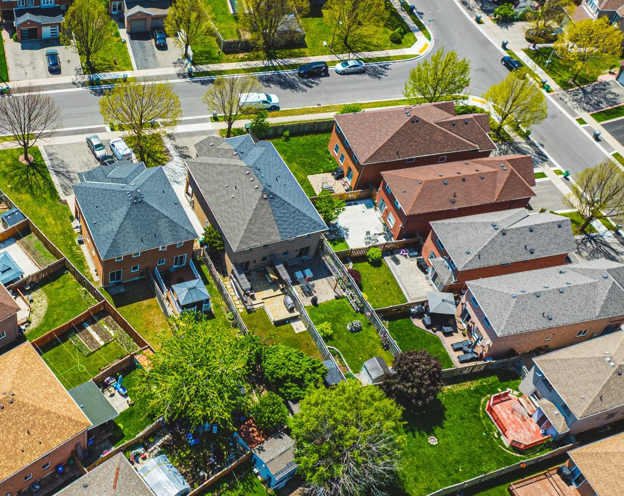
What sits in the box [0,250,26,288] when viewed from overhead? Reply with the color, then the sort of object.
blue gazebo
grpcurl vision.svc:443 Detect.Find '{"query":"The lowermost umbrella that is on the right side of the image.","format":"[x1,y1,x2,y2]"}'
[427,292,459,314]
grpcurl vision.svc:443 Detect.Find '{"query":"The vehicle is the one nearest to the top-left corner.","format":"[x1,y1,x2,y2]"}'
[45,49,59,69]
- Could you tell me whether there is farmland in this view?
No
